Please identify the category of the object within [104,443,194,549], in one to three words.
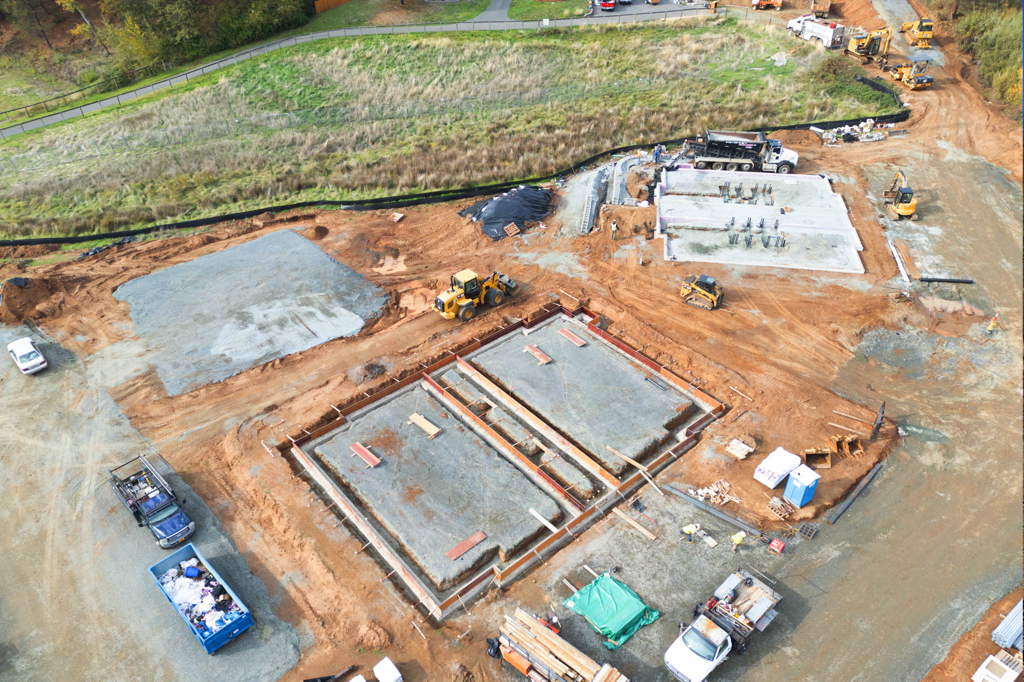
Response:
truck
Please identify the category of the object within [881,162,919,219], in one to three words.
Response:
work vehicle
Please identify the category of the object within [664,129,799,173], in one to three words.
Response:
truck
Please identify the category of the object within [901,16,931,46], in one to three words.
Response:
work vehicle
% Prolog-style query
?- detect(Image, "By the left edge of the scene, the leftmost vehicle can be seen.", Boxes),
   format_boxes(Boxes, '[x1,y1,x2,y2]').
[4,331,46,372]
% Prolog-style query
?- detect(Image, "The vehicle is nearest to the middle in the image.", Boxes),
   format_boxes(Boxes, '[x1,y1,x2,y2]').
[434,269,521,324]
